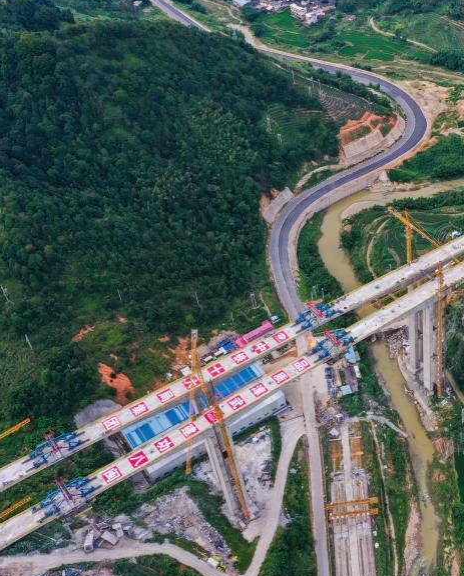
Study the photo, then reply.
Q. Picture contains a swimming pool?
No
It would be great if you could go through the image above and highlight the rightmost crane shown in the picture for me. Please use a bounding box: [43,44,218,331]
[433,265,445,398]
